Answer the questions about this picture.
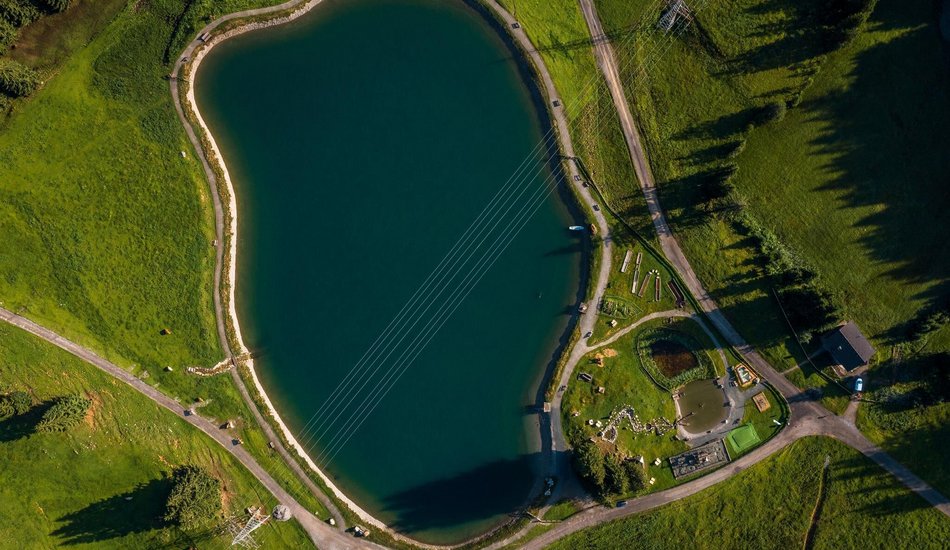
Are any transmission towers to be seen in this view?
Yes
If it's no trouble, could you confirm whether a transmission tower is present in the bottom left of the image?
Yes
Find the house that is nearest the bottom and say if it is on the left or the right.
right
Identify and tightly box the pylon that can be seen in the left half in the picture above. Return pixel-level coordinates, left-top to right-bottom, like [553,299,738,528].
[228,502,274,548]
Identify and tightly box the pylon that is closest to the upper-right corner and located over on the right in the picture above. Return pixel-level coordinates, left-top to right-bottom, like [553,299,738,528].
[657,0,700,36]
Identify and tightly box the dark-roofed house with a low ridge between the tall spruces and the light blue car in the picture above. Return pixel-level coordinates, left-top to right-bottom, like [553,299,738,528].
[821,320,875,373]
